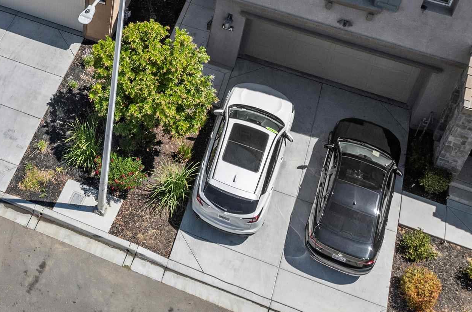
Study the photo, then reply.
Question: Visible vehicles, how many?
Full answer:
In total, there are 2 vehicles in the scene.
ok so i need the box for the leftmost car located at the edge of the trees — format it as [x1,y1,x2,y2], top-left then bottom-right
[193,81,298,238]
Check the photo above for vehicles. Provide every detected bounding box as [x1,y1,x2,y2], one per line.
[193,81,298,238]
[305,109,411,278]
